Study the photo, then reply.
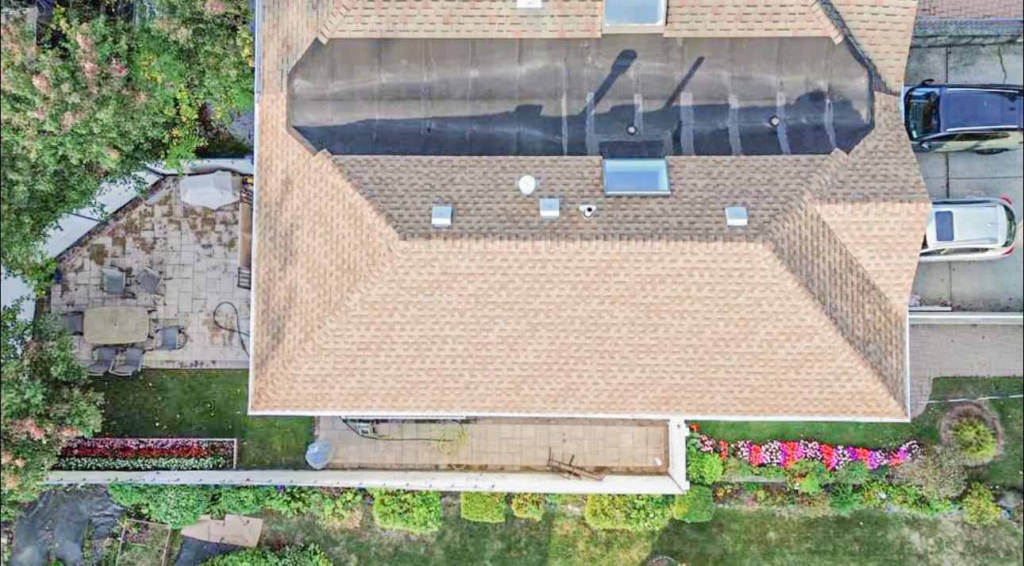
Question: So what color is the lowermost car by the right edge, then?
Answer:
white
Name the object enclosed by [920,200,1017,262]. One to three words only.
car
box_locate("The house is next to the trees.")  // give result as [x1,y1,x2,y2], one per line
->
[247,0,933,421]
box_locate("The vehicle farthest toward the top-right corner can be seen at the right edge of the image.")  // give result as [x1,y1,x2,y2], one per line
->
[907,79,1024,154]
